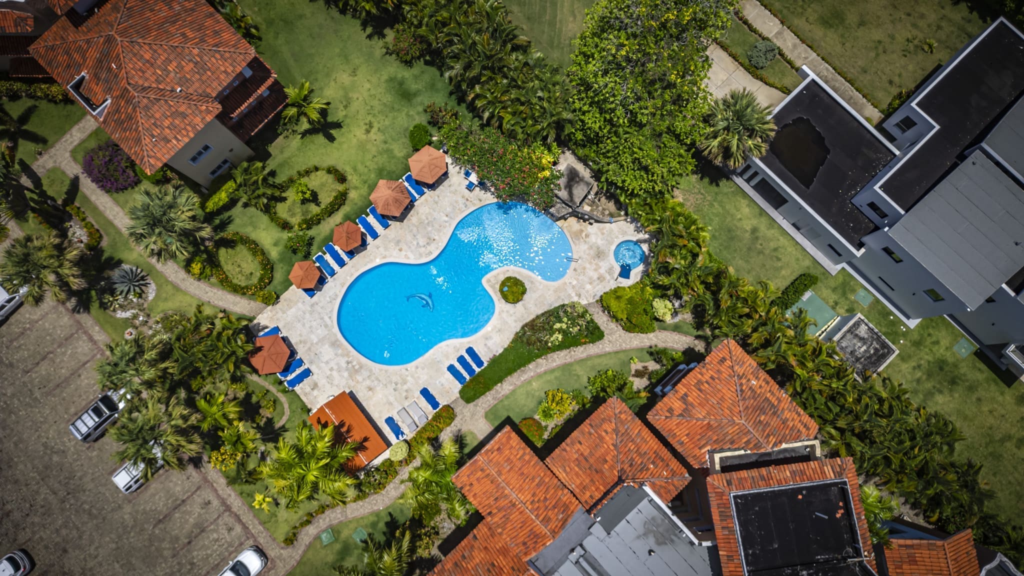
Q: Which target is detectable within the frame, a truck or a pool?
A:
pool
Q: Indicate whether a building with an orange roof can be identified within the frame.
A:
Yes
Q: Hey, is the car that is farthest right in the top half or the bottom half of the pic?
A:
bottom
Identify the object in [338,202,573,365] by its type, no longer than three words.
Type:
swimming pool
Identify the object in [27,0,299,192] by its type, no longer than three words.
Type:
house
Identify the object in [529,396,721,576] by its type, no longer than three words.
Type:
house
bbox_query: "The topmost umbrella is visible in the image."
[411,146,447,186]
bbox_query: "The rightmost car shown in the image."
[215,552,260,576]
